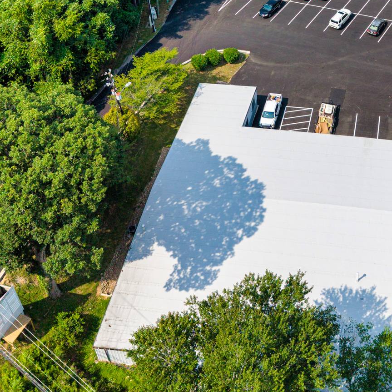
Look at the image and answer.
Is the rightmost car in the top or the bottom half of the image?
top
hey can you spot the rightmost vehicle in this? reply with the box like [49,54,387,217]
[365,18,390,39]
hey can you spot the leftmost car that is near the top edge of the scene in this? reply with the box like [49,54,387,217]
[257,0,282,19]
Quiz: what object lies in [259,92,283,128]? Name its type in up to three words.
truck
